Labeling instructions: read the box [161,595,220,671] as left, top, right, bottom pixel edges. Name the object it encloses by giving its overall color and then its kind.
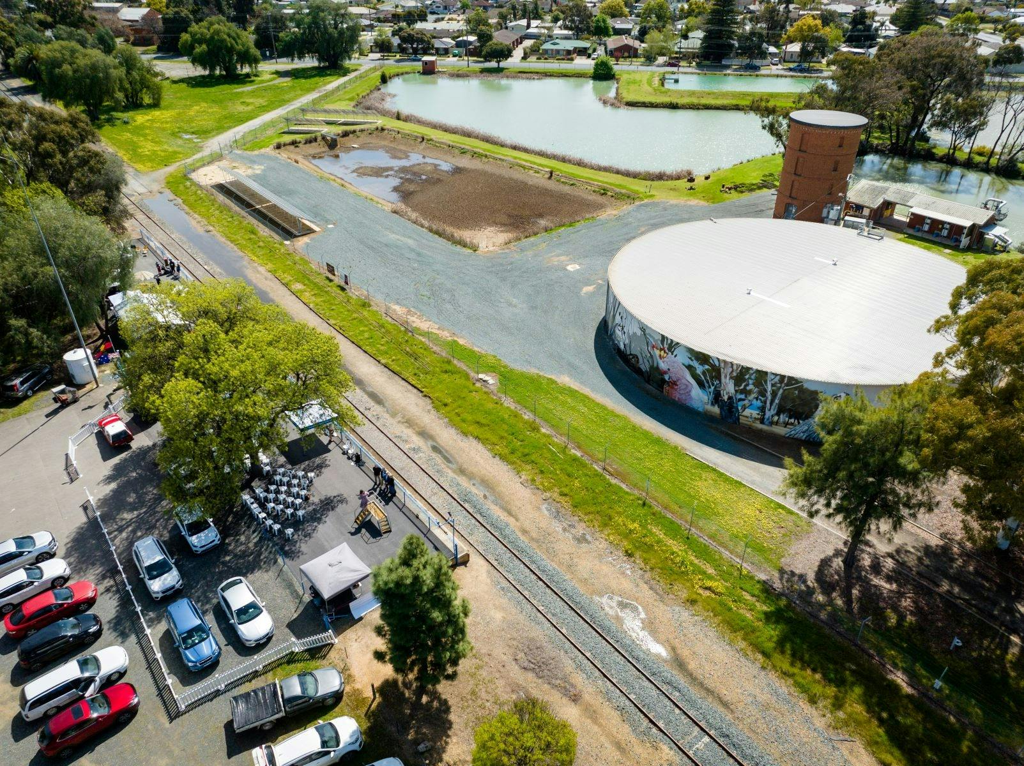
blue car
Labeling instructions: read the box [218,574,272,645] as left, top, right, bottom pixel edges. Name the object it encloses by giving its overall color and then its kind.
white car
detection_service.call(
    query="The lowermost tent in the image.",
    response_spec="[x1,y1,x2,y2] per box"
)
[300,543,373,625]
